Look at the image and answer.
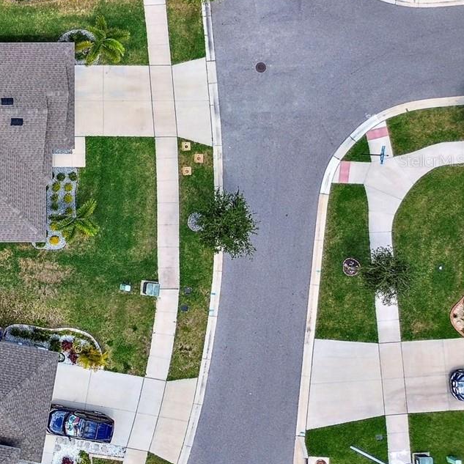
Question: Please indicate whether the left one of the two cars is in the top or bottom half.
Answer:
bottom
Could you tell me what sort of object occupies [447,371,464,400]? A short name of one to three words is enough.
car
